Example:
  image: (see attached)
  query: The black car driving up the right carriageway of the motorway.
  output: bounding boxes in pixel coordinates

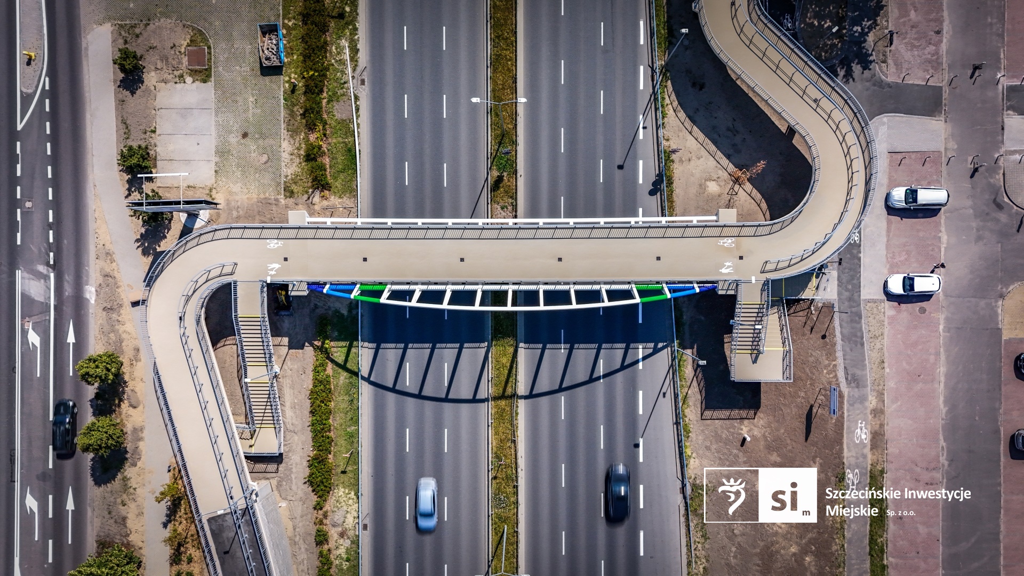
[605,466,632,522]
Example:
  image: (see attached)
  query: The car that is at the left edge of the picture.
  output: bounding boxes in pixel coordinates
[48,403,80,457]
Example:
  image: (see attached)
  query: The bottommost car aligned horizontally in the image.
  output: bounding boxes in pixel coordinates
[885,271,939,297]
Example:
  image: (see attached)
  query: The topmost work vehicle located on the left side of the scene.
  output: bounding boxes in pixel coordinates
[268,281,293,317]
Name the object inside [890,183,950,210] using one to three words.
car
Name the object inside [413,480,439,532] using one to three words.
car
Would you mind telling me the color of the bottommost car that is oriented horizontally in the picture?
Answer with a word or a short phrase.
white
